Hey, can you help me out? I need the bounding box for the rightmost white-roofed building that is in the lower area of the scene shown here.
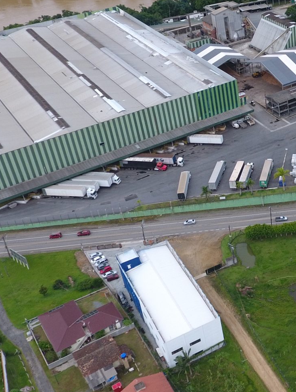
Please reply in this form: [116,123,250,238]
[117,241,231,375]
